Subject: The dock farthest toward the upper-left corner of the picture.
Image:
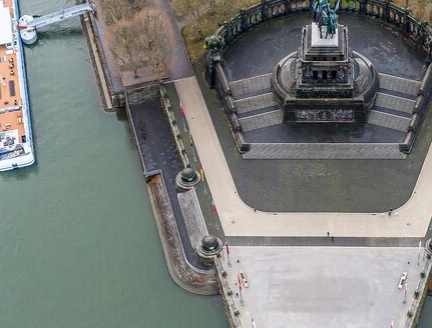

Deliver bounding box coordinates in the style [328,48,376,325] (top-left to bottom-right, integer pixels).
[18,16,40,39]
